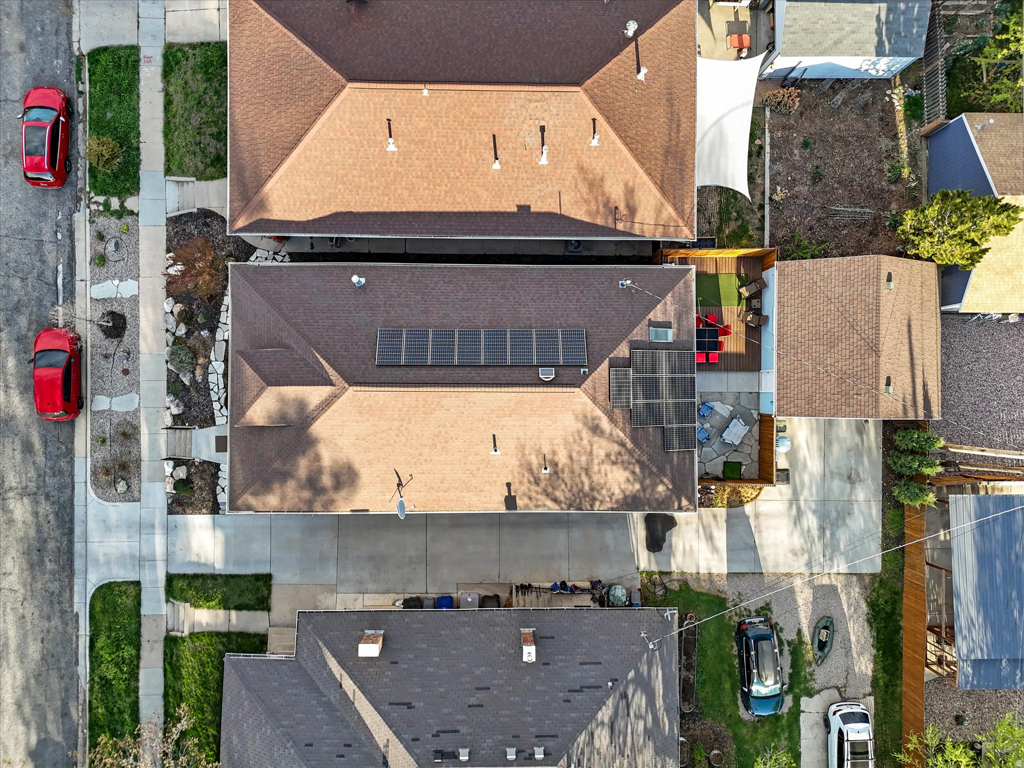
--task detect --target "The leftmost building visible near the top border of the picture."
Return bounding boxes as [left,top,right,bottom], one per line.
[228,0,696,239]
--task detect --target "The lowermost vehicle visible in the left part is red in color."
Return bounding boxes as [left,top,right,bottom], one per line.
[26,327,86,422]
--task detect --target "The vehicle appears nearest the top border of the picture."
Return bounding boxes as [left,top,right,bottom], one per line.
[14,87,79,192]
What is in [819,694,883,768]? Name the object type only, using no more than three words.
car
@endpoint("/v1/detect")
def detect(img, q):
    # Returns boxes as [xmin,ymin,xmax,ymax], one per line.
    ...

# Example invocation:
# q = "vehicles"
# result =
[731,609,793,720]
[819,694,883,768]
[14,87,79,192]
[26,327,86,422]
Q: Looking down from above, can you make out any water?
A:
No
